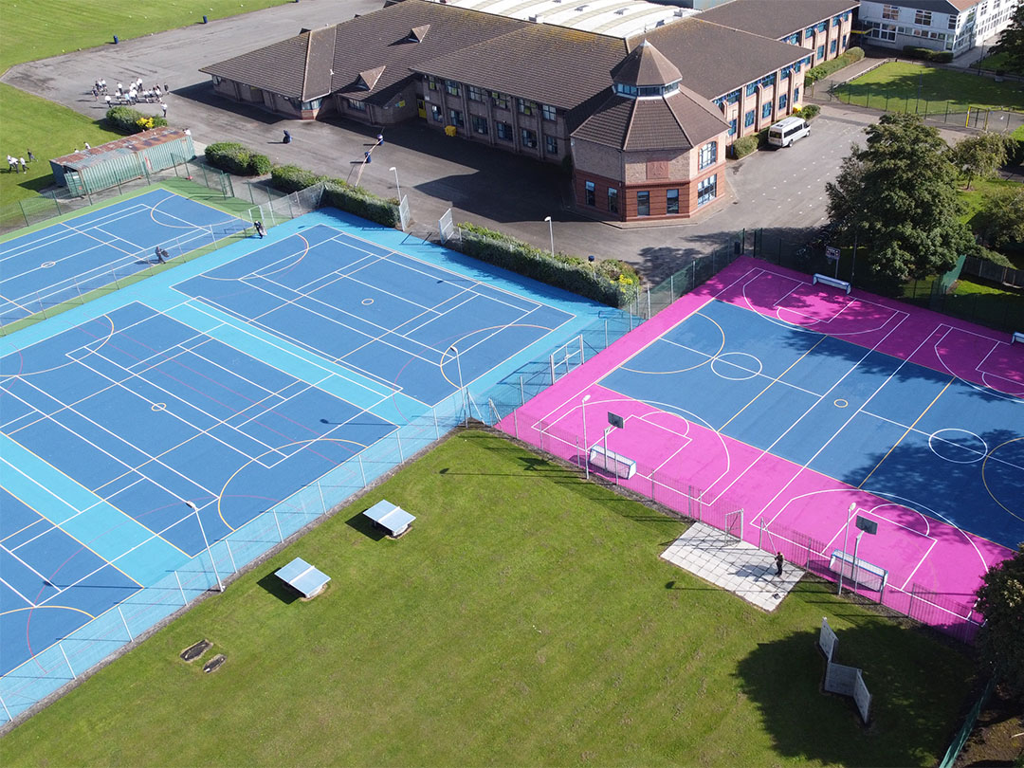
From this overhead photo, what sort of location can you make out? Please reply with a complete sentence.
This image shows a sports ground.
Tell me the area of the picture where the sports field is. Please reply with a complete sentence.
The sports field is in the top left part of the image.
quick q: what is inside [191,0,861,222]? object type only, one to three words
building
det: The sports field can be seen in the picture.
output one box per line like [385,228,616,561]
[0,0,291,226]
